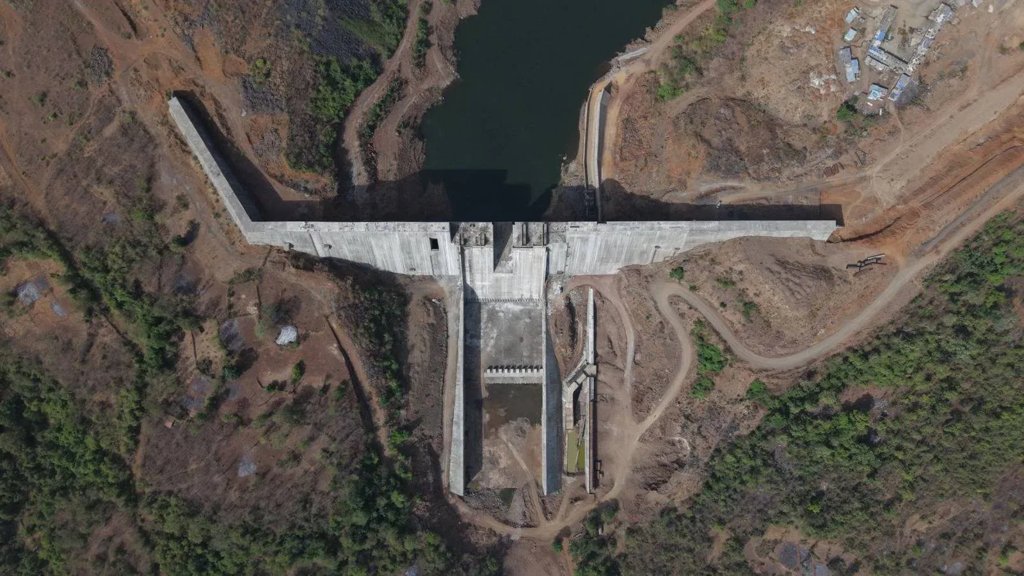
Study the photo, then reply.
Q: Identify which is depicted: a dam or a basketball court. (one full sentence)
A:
I can see a dam in this picture.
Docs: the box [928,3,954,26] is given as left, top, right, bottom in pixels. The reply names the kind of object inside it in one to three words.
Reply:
shed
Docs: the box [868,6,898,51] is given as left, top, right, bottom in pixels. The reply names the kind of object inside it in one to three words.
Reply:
shed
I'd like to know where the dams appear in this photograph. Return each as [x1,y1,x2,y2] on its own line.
[167,97,836,300]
